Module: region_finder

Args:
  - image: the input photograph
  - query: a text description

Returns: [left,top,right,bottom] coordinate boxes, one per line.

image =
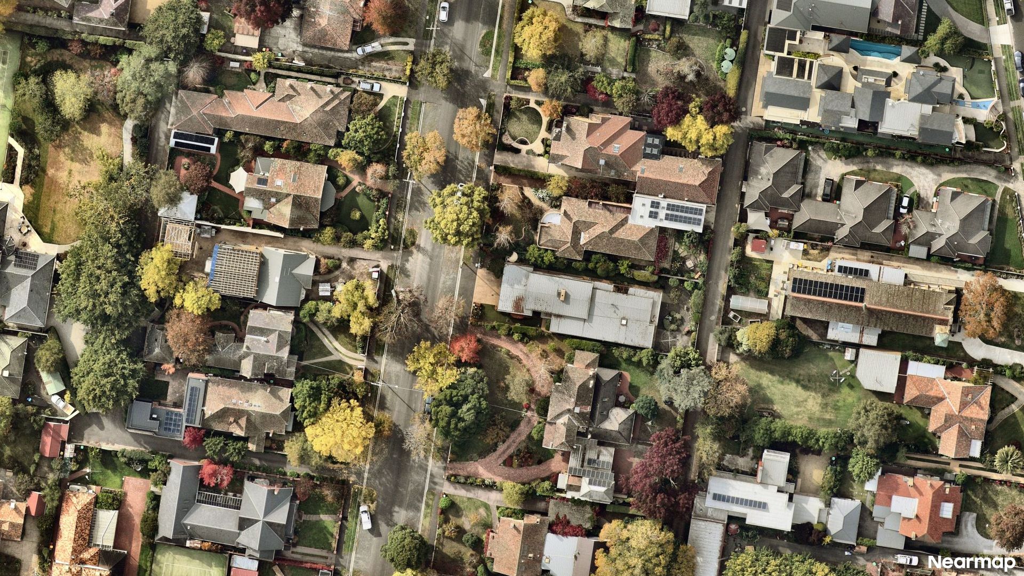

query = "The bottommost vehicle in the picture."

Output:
[891,553,918,565]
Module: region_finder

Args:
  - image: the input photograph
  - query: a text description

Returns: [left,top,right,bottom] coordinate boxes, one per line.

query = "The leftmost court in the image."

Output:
[0,29,22,182]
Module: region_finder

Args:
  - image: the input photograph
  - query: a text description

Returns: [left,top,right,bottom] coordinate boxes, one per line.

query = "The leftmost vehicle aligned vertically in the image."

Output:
[358,504,371,530]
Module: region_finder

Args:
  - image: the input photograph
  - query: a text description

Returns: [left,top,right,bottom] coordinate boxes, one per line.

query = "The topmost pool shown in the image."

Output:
[850,39,901,60]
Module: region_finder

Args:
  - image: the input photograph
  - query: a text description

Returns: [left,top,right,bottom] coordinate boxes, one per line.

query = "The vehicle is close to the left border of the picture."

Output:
[50,392,74,417]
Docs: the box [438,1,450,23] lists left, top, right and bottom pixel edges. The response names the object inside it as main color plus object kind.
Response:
white vehicle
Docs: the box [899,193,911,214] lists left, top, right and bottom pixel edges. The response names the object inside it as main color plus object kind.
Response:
white vehicle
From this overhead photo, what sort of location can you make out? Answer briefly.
residential area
